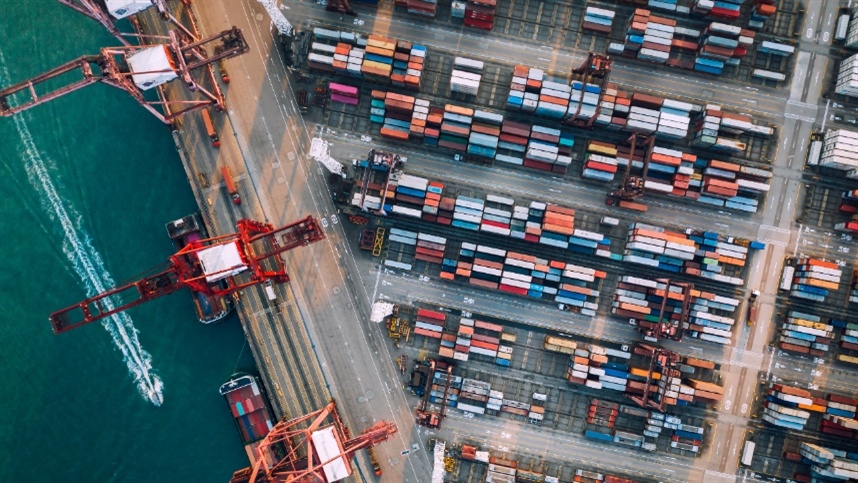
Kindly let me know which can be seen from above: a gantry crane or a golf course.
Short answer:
gantry crane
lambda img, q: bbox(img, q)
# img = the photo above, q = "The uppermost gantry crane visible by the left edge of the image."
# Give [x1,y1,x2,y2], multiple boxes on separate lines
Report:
[35,0,208,52]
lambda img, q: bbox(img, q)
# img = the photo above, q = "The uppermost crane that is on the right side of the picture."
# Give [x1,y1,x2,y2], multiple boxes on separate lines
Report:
[566,52,612,127]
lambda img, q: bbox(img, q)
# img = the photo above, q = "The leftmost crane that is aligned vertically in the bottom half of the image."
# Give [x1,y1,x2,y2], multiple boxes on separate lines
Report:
[416,356,454,427]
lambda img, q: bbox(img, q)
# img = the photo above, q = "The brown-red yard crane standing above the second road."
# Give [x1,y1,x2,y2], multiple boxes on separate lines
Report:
[608,132,657,199]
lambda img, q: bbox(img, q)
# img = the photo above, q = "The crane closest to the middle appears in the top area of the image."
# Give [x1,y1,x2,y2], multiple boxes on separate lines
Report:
[357,147,401,216]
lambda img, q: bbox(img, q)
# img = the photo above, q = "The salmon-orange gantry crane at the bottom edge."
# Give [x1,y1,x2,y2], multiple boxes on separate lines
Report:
[200,391,398,483]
